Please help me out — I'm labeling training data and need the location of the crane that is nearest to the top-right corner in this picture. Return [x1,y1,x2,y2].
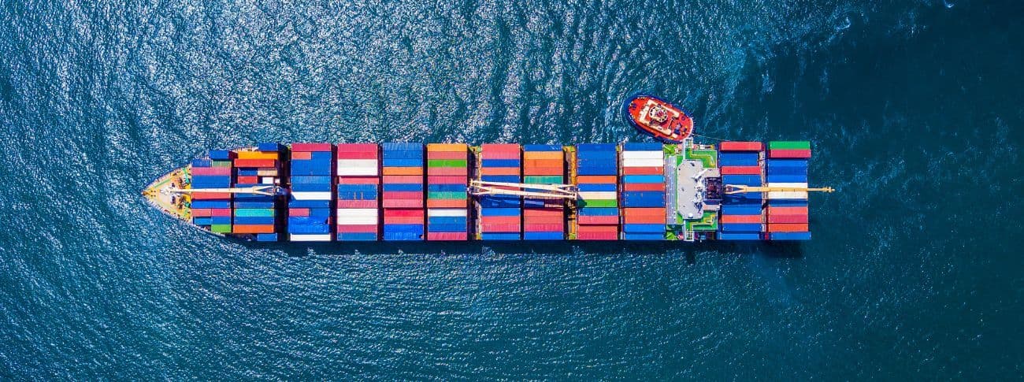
[722,182,833,195]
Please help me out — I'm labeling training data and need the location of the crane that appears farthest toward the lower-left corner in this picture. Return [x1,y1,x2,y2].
[163,184,292,198]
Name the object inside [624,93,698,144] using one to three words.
boat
